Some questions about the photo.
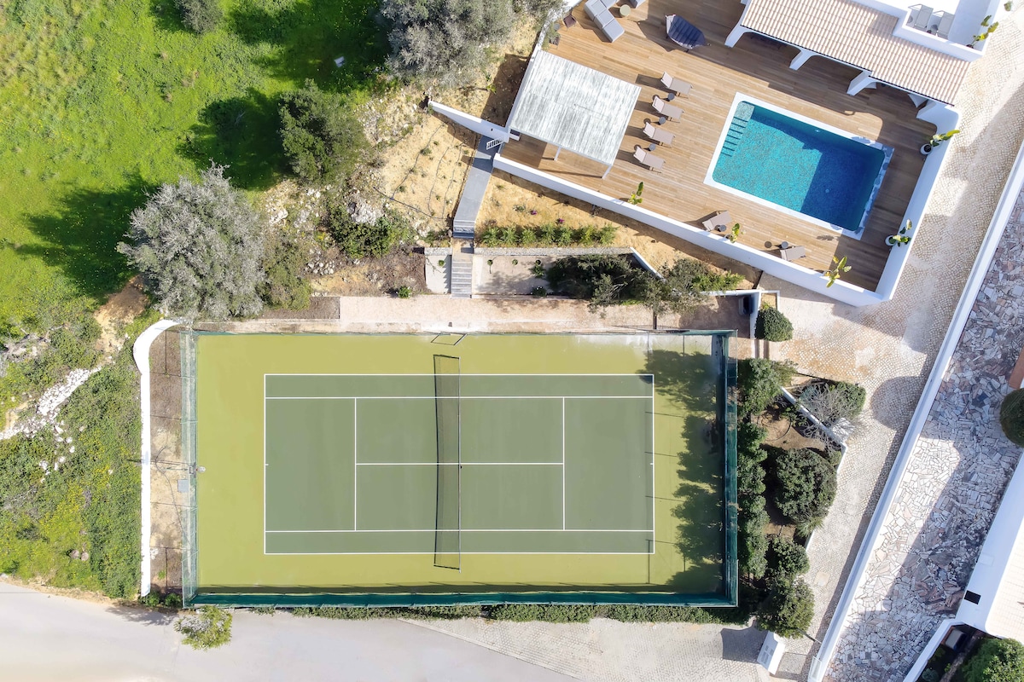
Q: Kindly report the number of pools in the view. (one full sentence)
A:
The picture shows 1 pool.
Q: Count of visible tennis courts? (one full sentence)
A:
My tally gives 1 tennis court in this photo.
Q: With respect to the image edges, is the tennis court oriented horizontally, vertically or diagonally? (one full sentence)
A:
In this picture, the tennis court lies horizontally.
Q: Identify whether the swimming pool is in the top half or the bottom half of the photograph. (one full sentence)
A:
It is in the top half that the swimming pool appears.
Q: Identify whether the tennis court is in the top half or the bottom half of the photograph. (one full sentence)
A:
Seen from above, the tennis court lies in the bottom half of the view.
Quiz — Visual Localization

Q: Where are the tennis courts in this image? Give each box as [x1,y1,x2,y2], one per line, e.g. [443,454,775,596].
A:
[193,336,720,595]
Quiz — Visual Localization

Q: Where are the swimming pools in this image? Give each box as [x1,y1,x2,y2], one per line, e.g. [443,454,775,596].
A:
[704,92,893,239]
